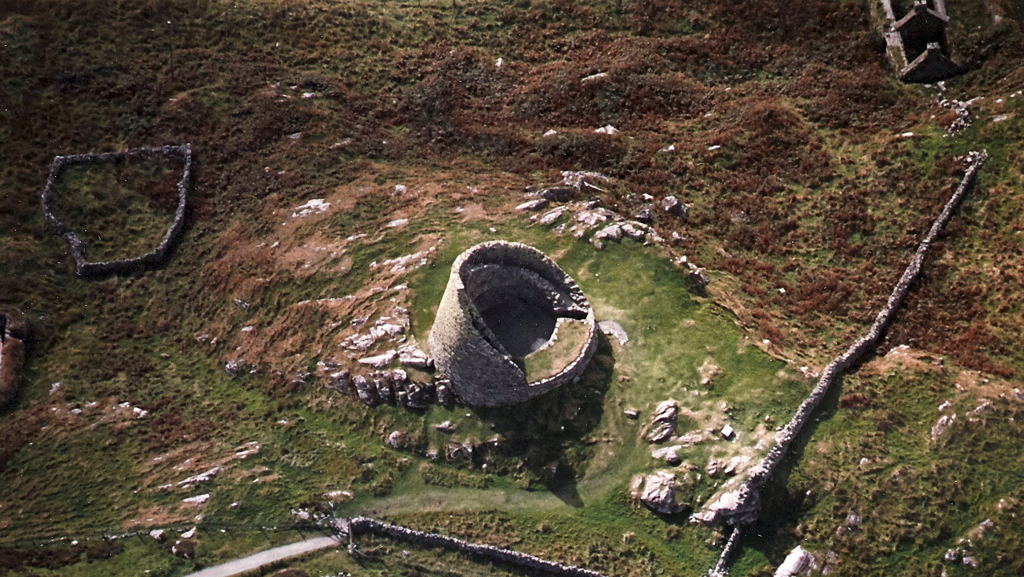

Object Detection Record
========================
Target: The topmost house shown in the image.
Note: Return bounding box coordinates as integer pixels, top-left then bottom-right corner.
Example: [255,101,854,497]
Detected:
[890,0,962,86]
